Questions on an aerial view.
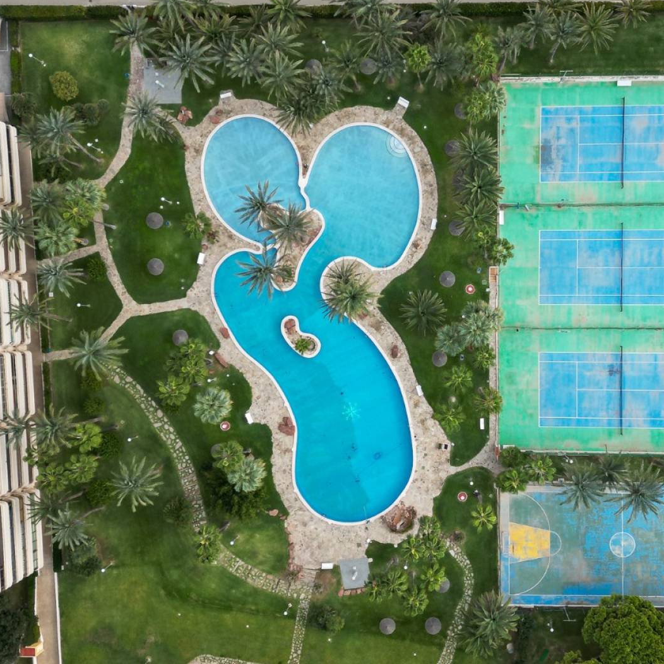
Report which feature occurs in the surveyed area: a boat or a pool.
pool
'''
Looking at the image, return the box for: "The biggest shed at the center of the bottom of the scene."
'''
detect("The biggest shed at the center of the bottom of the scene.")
[340,555,370,589]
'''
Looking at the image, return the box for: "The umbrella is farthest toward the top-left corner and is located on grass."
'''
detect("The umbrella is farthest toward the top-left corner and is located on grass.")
[147,212,165,230]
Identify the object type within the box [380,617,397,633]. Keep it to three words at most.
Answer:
umbrella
